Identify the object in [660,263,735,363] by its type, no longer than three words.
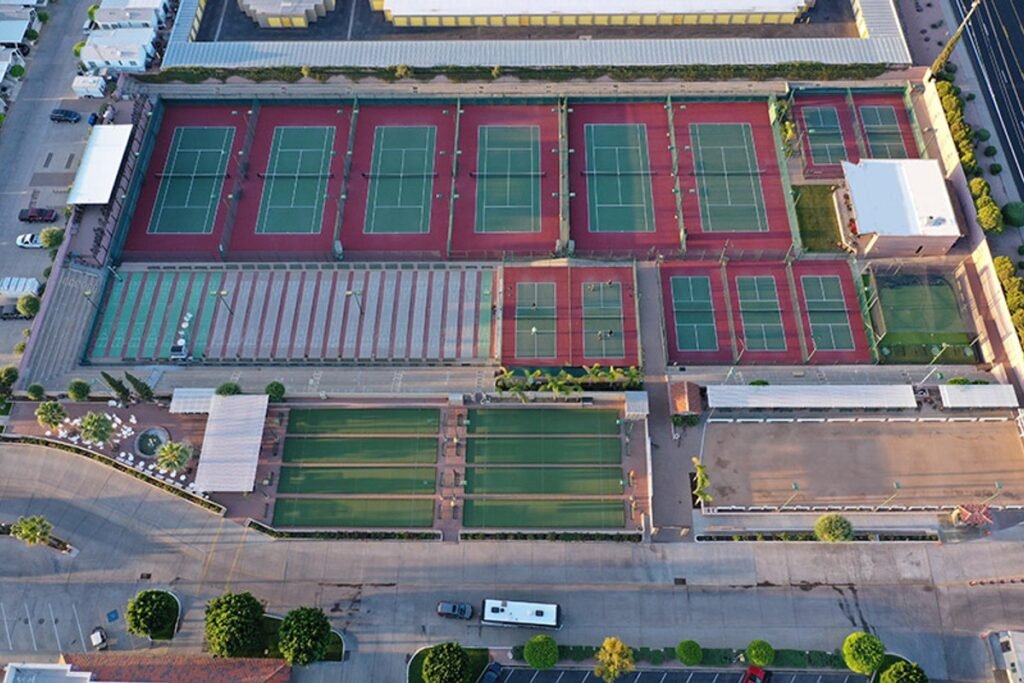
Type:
sports court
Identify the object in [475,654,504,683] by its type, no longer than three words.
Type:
car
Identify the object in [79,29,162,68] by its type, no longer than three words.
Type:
house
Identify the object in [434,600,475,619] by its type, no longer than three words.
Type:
vehicle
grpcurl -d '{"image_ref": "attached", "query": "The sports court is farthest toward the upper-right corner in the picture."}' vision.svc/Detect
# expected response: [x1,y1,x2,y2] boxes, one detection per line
[847,93,927,160]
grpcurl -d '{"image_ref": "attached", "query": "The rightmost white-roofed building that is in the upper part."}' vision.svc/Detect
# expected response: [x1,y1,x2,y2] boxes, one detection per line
[835,159,960,254]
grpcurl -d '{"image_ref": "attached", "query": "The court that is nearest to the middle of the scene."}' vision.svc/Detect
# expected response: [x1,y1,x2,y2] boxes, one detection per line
[502,267,571,365]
